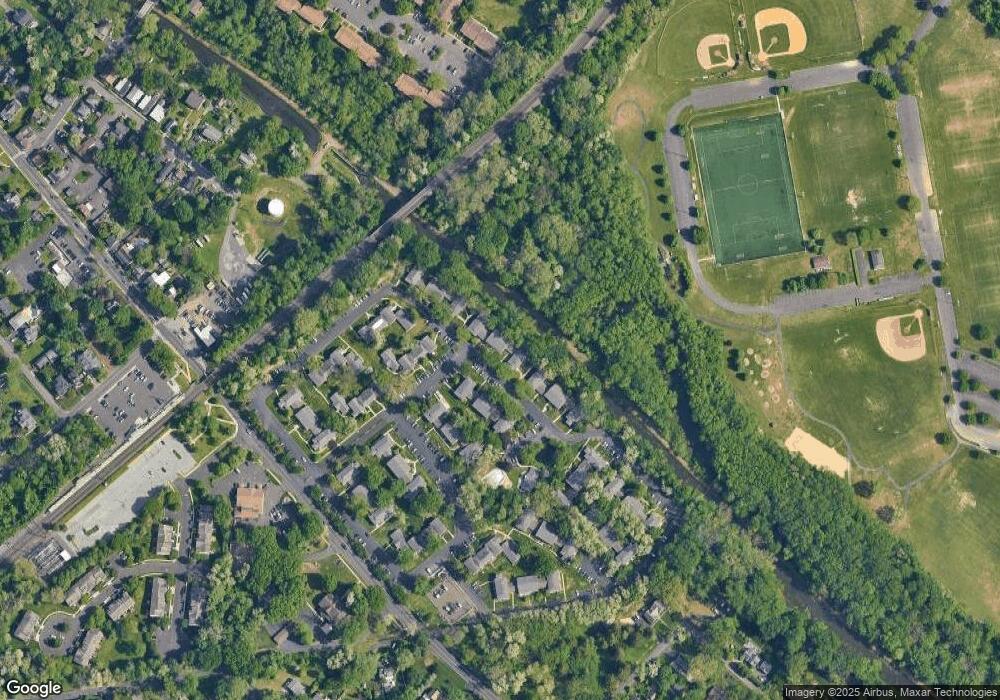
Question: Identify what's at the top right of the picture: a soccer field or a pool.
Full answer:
The feature located at the top right of the picture is a soccer field.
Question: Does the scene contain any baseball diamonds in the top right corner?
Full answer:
Yes, in the top right corner there is a baseball diamond.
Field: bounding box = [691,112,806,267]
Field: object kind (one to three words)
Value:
soccer field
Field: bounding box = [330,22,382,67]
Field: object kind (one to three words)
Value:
building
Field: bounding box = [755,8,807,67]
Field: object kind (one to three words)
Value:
baseball field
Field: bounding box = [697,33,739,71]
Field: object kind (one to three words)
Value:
baseball field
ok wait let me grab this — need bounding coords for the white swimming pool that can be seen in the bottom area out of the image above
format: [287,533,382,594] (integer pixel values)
[481,466,516,490]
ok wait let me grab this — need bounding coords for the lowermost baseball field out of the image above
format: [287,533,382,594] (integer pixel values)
[876,305,930,361]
